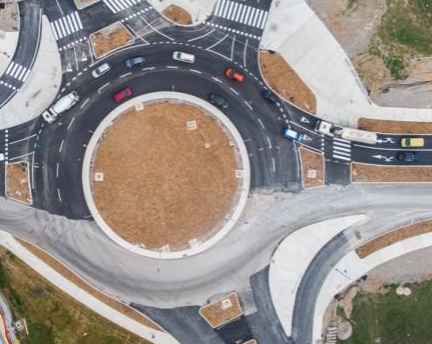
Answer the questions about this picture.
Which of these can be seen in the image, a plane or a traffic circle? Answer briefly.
traffic circle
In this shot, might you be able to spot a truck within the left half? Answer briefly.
Yes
